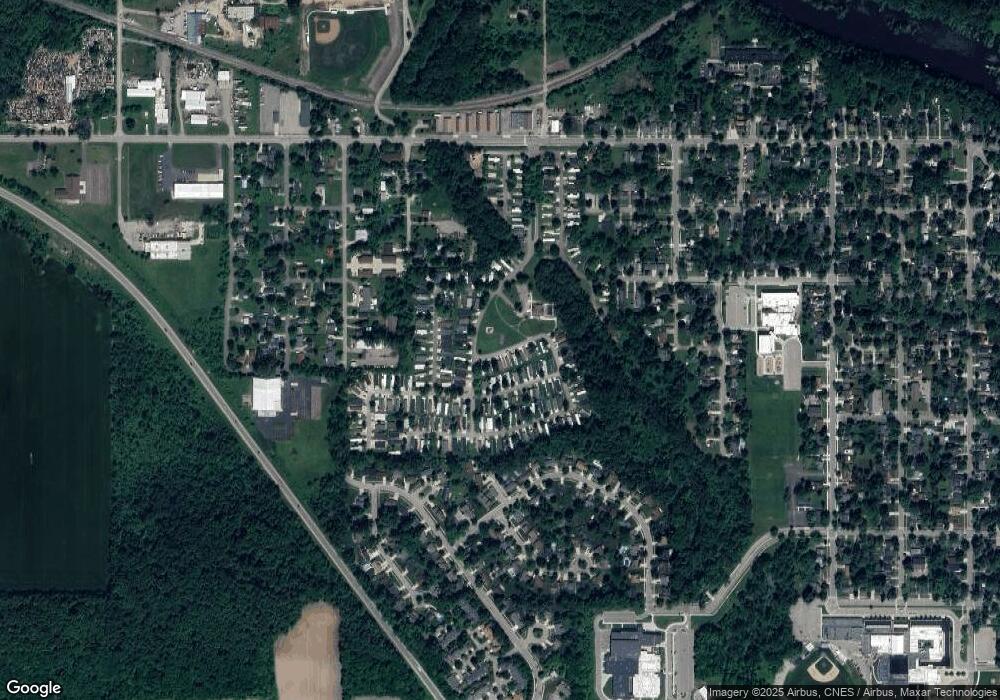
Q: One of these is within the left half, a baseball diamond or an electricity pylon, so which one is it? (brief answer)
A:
baseball diamond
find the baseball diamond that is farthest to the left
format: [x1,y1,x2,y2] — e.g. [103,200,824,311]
[308,7,390,95]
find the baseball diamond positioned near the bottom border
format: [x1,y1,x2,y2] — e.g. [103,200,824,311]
[787,644,868,700]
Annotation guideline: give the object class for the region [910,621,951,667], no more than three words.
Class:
building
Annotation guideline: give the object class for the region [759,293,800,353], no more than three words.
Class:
building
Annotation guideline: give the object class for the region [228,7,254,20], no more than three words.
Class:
barn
